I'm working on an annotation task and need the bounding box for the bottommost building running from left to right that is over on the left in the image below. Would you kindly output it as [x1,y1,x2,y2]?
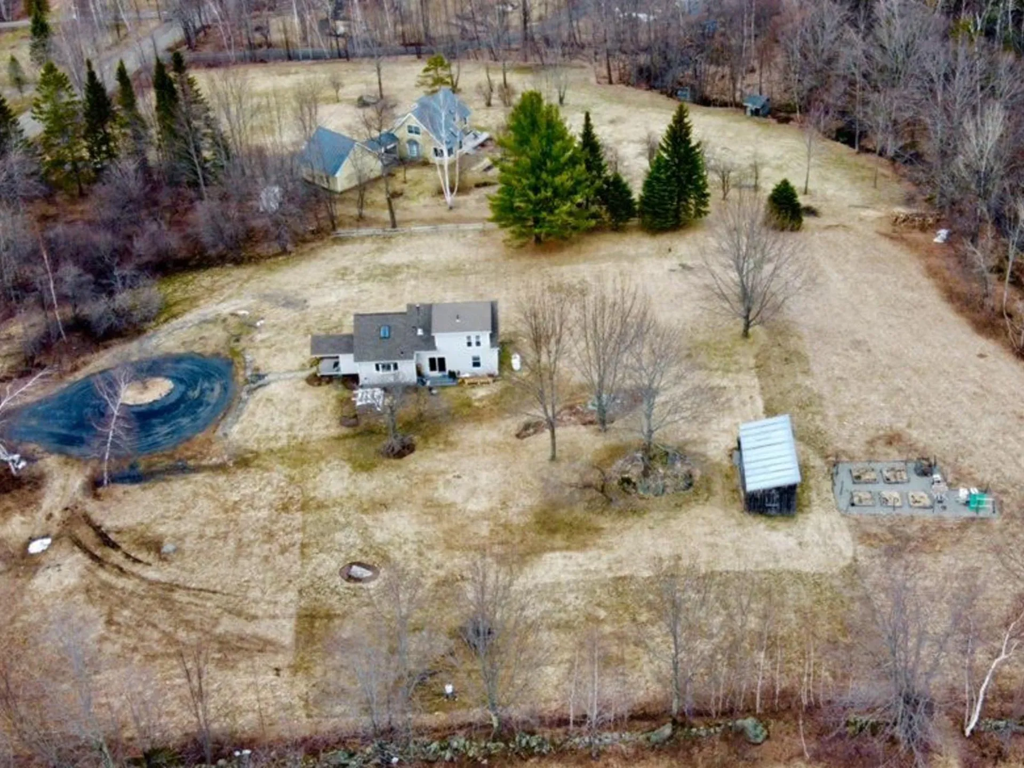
[310,300,499,390]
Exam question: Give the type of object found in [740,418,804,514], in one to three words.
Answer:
shed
